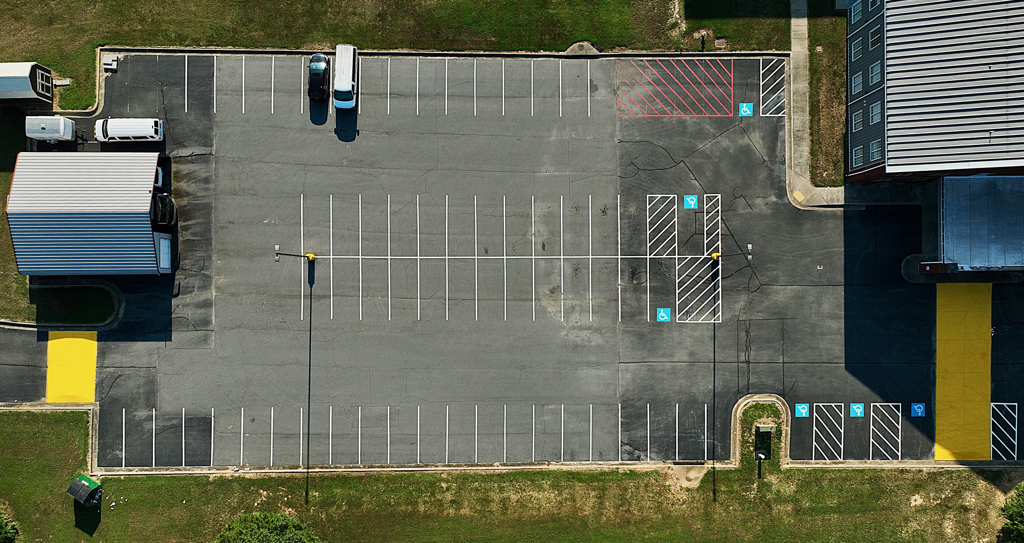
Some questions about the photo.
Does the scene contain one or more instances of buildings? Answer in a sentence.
Yes, there is a building in the image.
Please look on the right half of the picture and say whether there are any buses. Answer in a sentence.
No, I can find no bus on the right half of the picture.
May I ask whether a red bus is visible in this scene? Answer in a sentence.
No, I find no red bus anywhere in the image.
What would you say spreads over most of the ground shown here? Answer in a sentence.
What you mostly see from above here is paved ground.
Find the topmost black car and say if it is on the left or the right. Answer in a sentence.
The topmost black car appears in the left half of the scene.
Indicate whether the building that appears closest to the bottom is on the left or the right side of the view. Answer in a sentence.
The building that appears closest to the bottom sits on the left side.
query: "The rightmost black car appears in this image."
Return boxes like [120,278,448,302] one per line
[305,53,329,101]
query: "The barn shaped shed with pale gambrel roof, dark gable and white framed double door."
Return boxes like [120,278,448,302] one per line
[0,63,52,102]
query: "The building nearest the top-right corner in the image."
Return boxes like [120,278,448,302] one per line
[846,0,1024,182]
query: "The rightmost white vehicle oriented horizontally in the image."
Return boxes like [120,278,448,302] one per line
[94,116,165,144]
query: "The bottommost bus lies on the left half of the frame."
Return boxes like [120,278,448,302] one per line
[151,194,176,228]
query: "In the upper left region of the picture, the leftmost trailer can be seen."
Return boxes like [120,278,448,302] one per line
[26,116,89,144]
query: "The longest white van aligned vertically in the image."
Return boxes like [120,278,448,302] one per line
[332,45,360,111]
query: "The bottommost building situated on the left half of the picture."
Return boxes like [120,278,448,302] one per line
[6,152,172,274]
